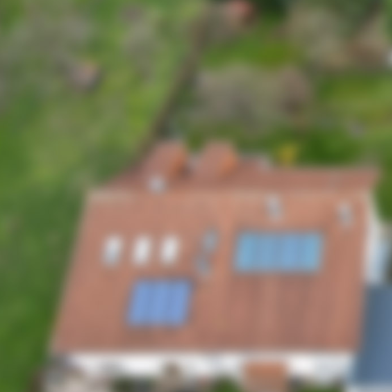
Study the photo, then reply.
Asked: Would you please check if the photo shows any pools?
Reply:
No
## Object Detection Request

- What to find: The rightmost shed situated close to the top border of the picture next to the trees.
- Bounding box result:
[223,0,258,30]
